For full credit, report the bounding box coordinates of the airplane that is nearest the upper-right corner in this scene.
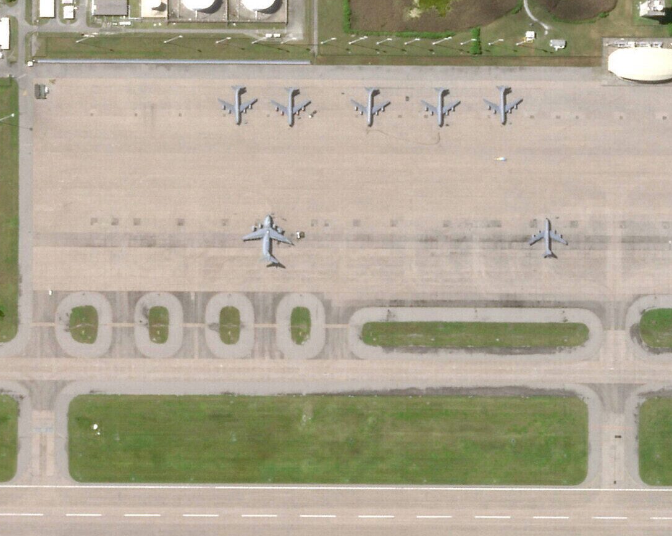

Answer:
[485,82,523,122]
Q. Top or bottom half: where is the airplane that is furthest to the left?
top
